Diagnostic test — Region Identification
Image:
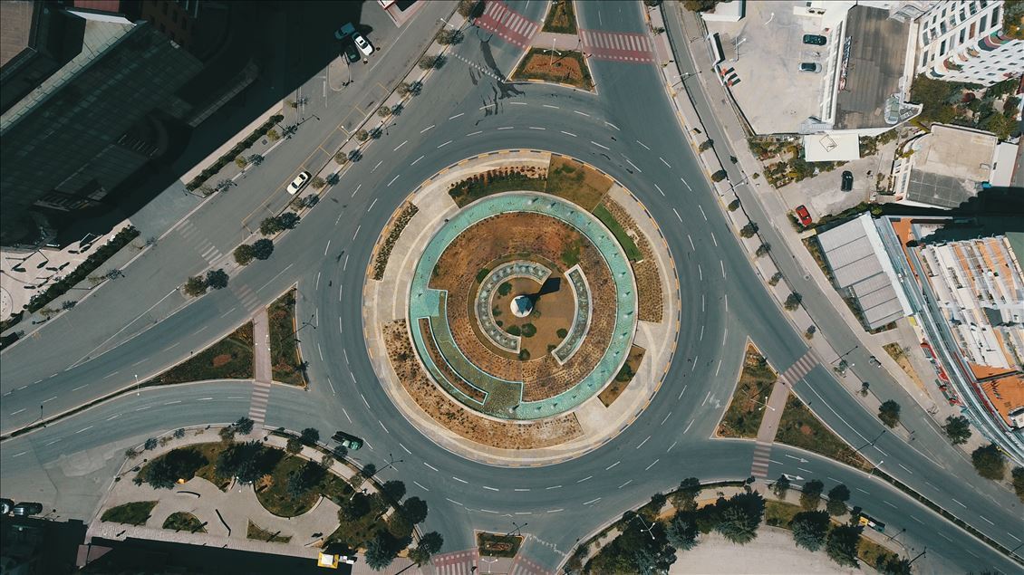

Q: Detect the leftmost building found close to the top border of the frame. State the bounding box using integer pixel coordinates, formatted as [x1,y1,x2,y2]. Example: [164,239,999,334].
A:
[0,0,203,219]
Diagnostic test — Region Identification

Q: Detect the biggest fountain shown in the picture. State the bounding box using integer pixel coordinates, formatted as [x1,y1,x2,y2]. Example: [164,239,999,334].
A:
[406,189,640,423]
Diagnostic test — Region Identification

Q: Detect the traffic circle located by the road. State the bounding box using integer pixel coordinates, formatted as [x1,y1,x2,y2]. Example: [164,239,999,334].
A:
[298,84,745,532]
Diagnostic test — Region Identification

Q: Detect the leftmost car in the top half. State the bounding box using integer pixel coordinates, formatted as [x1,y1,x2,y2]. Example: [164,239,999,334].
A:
[287,169,307,194]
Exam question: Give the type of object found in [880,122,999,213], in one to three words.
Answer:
house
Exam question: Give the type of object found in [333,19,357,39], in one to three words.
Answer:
vehicle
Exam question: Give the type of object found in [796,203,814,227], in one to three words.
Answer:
car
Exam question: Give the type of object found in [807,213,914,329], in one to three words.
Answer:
building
